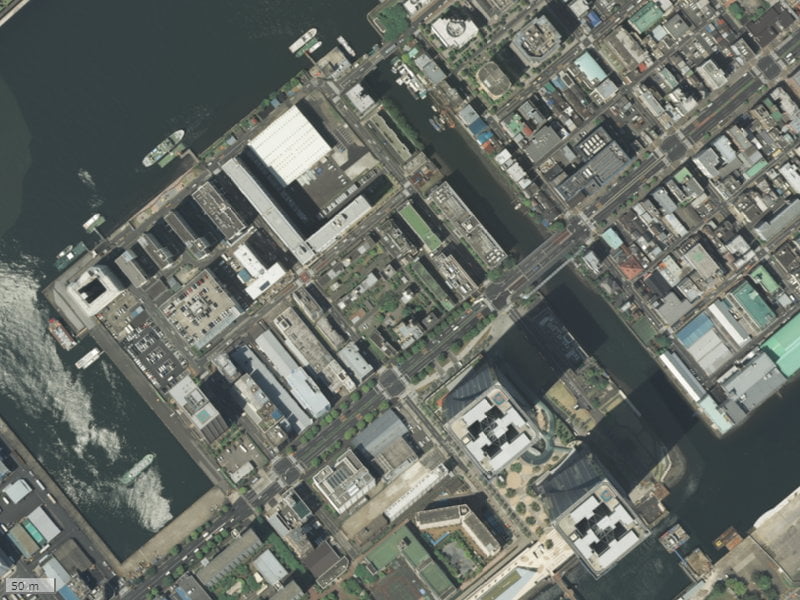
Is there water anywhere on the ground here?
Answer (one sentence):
Yes, the picture does contain water.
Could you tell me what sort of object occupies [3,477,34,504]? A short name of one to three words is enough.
building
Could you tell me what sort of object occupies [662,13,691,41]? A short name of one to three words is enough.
building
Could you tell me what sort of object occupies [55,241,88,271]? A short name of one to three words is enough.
pier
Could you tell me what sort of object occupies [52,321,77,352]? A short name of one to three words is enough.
ship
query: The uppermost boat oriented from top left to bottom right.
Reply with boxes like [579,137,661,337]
[338,38,356,58]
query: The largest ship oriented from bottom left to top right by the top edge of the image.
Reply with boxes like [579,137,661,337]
[288,29,317,54]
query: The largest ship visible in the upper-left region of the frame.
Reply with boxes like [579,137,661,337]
[140,130,186,168]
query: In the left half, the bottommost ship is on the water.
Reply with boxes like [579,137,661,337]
[120,454,155,484]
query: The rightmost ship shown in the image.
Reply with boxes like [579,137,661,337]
[712,526,743,551]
